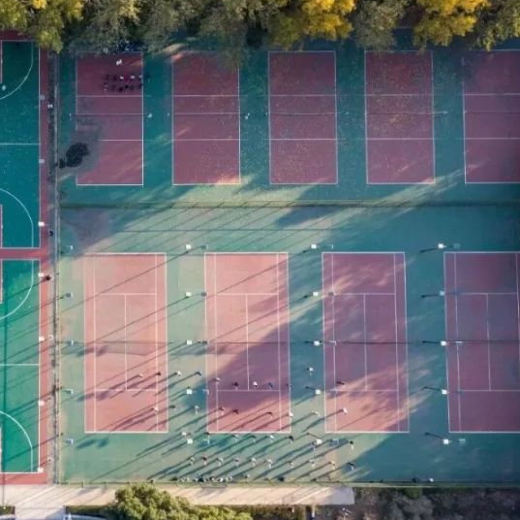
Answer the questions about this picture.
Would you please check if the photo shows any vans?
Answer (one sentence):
No, no van is visible in the scene.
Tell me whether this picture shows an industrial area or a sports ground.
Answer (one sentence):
It's a sports ground.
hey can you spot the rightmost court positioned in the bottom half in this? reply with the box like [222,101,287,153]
[445,251,520,432]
